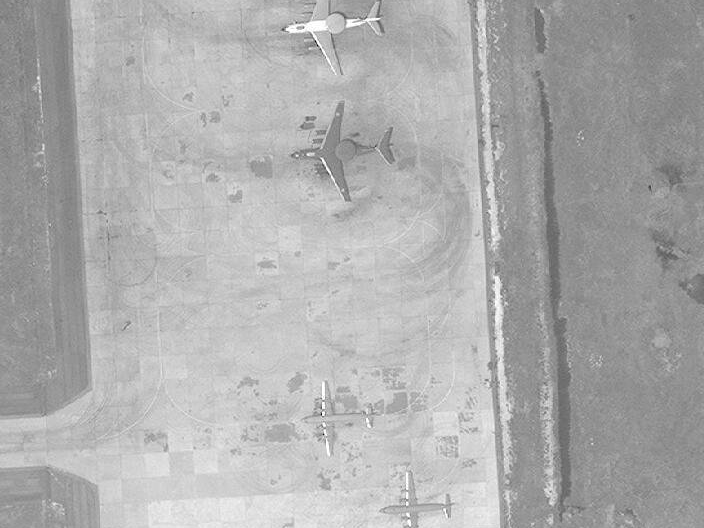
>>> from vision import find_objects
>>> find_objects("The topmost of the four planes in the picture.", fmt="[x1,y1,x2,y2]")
[282,0,383,75]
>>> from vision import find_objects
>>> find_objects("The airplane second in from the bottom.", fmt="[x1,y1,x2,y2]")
[302,380,375,456]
